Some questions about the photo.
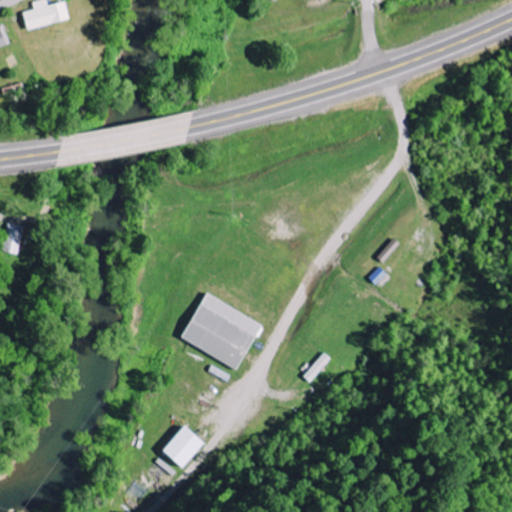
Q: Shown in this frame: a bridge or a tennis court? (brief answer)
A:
bridge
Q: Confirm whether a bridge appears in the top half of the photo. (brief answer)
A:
Yes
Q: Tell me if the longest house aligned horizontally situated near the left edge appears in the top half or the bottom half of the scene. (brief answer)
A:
top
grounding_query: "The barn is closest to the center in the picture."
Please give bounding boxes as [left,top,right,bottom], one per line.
[180,292,265,370]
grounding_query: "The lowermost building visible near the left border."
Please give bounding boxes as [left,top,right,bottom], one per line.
[2,224,20,255]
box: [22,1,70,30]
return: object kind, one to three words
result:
house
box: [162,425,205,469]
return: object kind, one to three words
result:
barn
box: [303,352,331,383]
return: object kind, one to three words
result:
house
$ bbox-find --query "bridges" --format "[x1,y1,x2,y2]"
[56,108,194,170]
